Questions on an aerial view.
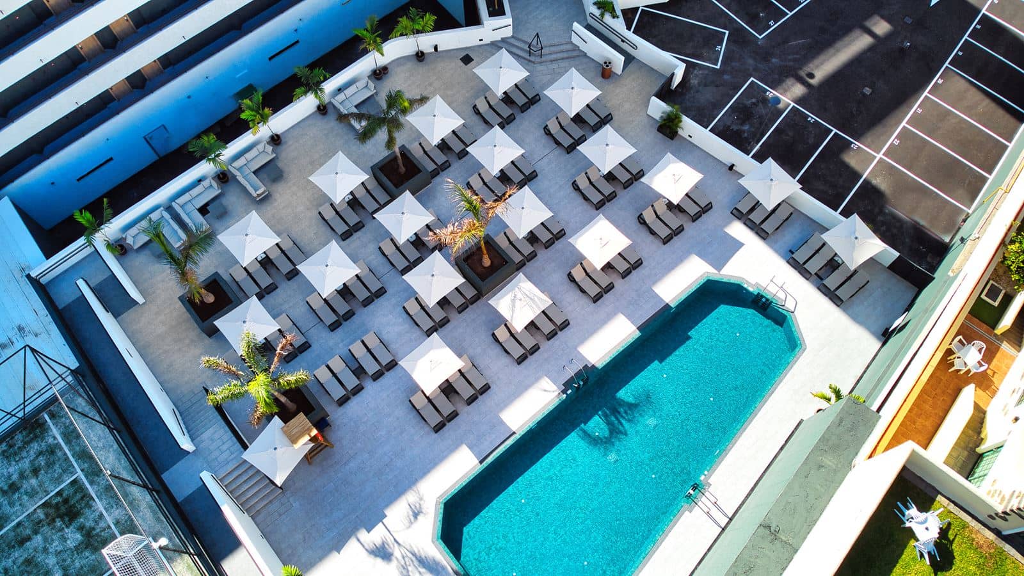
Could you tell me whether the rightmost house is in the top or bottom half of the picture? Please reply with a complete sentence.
It is in the bottom half that the rightmost house appears.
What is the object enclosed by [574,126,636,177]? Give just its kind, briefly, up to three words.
umbrella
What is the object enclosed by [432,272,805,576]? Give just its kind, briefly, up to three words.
swimming pool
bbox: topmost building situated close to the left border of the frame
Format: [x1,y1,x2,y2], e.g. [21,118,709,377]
[0,0,401,235]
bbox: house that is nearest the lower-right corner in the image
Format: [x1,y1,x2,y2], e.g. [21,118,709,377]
[968,416,1024,527]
